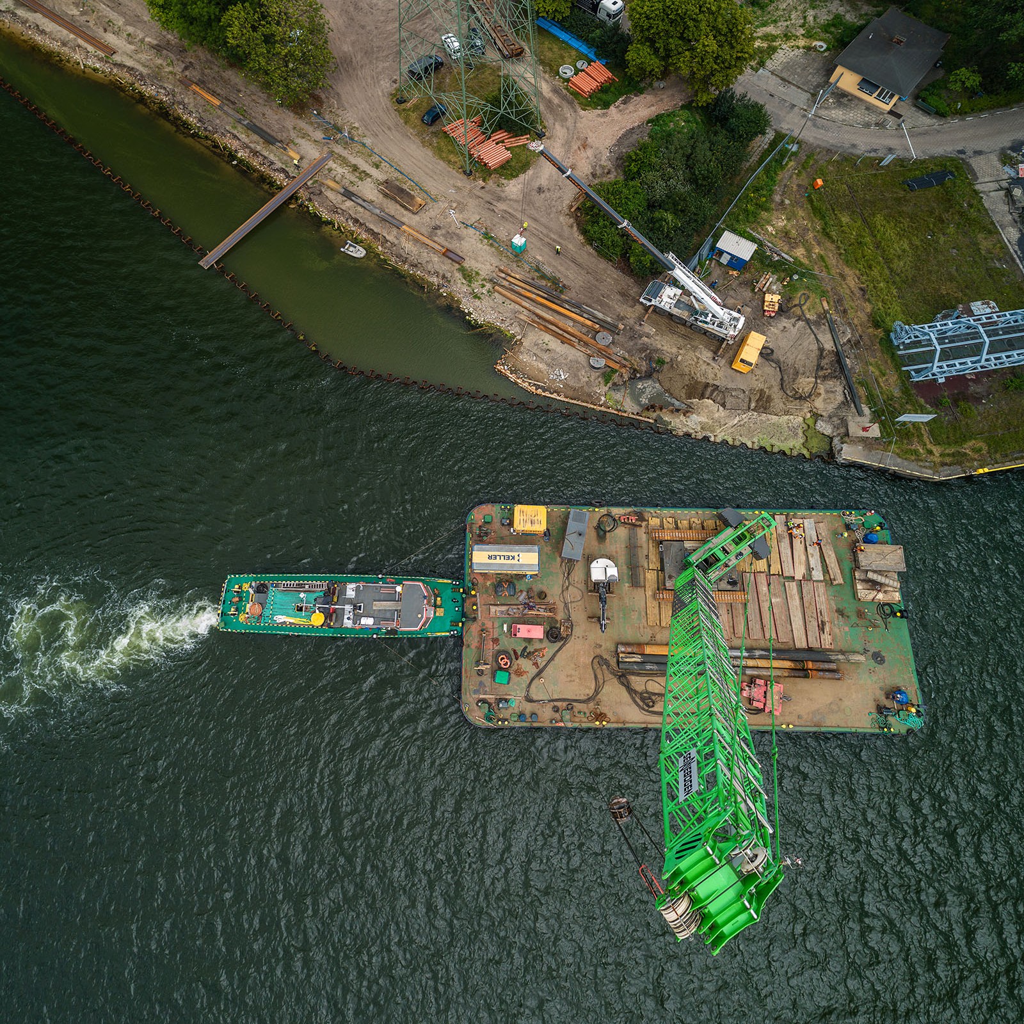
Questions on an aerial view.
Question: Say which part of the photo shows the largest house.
top right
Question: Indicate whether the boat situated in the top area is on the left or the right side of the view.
left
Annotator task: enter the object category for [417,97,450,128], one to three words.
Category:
car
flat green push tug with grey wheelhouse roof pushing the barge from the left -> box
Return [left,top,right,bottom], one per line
[217,572,466,640]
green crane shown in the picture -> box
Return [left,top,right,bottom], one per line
[592,507,811,953]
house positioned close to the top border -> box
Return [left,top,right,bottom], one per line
[838,1,946,121]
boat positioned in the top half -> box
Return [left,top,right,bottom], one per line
[340,238,368,259]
